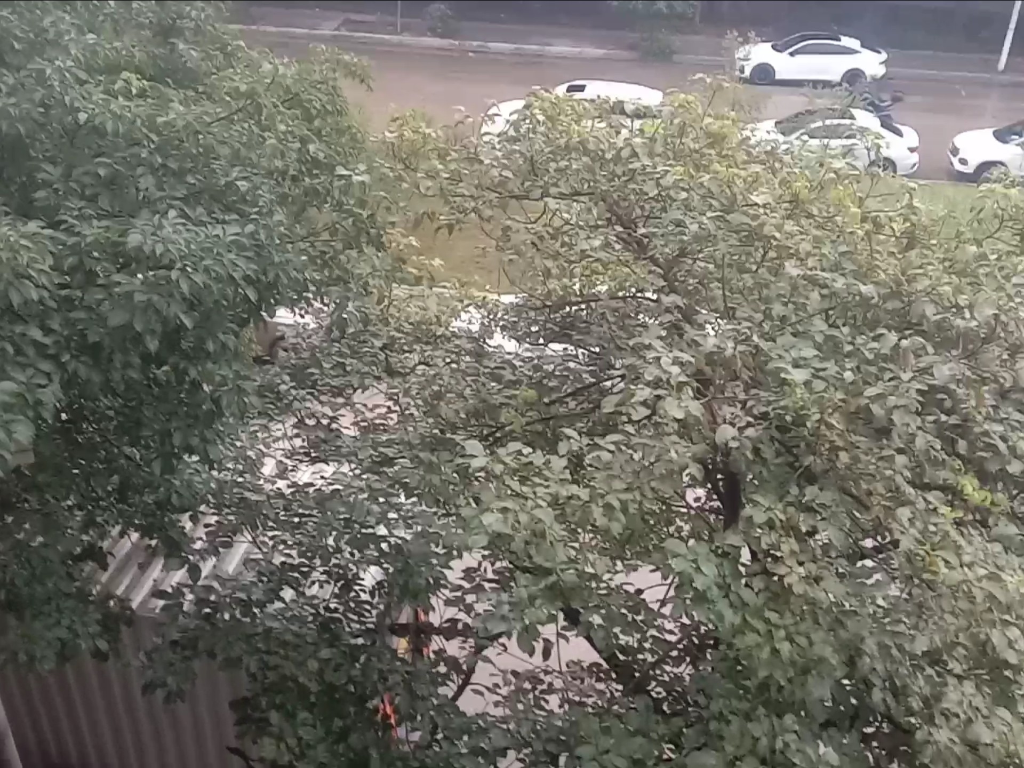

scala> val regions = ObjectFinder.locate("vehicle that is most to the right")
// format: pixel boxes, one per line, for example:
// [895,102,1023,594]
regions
[945,116,1024,185]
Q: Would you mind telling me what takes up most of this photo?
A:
trees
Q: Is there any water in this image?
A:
No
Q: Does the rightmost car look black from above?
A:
No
